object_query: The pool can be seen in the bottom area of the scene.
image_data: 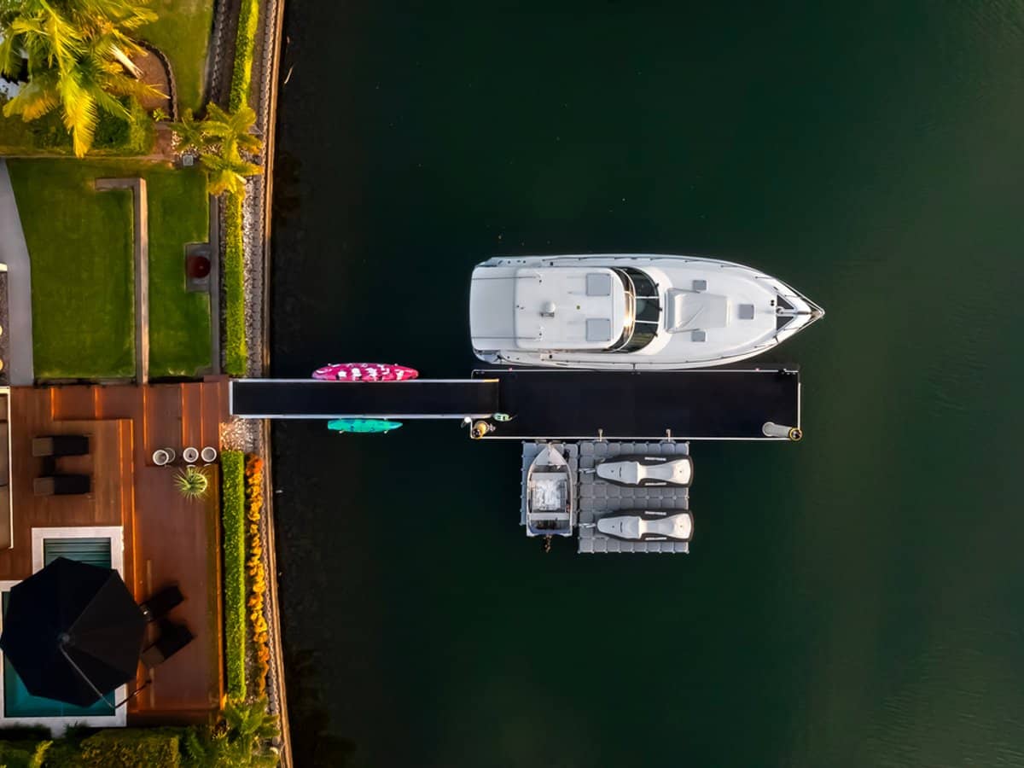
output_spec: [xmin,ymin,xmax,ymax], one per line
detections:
[0,525,134,739]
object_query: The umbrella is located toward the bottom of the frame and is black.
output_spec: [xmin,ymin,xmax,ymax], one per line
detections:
[2,557,153,710]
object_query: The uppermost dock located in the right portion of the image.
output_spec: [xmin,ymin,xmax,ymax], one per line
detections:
[471,368,801,440]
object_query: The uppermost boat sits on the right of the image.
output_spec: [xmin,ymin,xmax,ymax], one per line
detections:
[470,253,825,370]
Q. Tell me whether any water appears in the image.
Yes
